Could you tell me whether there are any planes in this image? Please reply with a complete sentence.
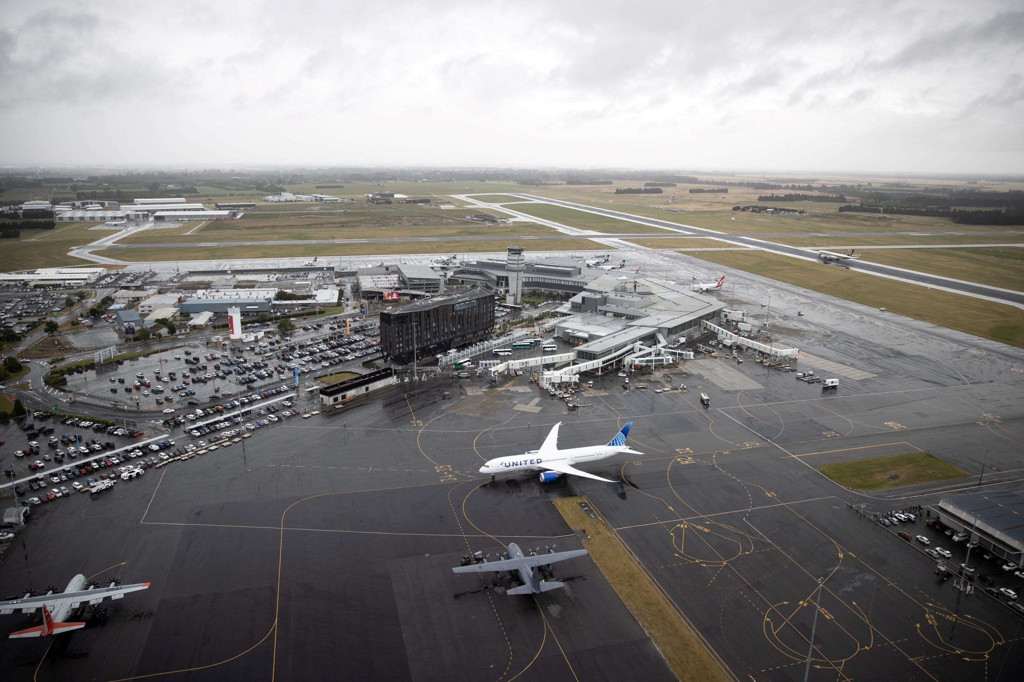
Yes, there's a plane down there.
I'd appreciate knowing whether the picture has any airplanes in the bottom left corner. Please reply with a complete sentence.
Yes, there is an airplane in the bottom left corner.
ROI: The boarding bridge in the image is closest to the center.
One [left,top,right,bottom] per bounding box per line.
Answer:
[489,354,576,380]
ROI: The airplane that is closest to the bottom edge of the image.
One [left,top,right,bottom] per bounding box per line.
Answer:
[0,570,151,636]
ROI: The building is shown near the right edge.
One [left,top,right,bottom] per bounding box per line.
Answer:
[921,481,1024,569]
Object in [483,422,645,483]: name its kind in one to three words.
airplane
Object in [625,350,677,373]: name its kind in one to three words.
jet bridge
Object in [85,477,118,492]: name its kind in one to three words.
vehicle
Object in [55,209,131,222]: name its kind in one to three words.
hangar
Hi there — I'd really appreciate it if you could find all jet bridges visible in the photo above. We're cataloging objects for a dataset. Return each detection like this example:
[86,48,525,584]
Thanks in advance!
[545,341,640,389]
[701,322,802,359]
[625,350,677,373]
[721,308,771,332]
[650,334,698,363]
[489,354,576,380]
